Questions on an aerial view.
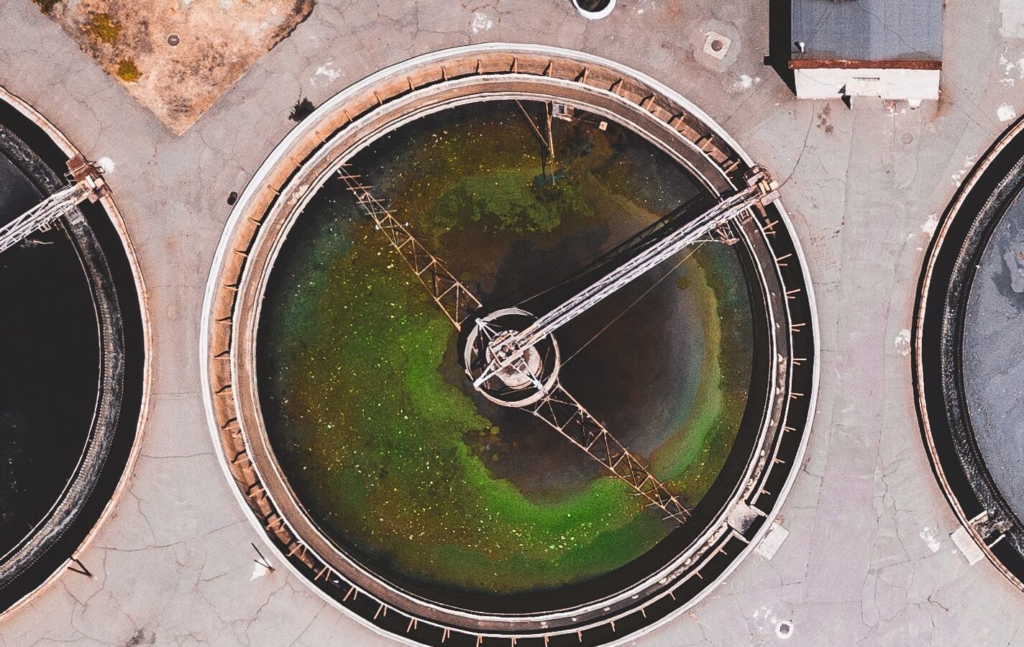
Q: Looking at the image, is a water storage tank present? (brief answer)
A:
Yes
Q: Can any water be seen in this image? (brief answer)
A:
Yes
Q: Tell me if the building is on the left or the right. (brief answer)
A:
right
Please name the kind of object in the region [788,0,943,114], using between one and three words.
building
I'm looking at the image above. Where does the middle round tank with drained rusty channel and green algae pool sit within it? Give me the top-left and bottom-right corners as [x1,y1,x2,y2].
[201,42,820,647]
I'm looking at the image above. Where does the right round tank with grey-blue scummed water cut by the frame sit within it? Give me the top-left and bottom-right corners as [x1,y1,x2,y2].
[916,121,1024,588]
